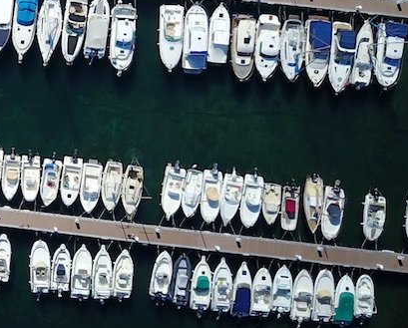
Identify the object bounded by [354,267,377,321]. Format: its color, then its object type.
white boat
